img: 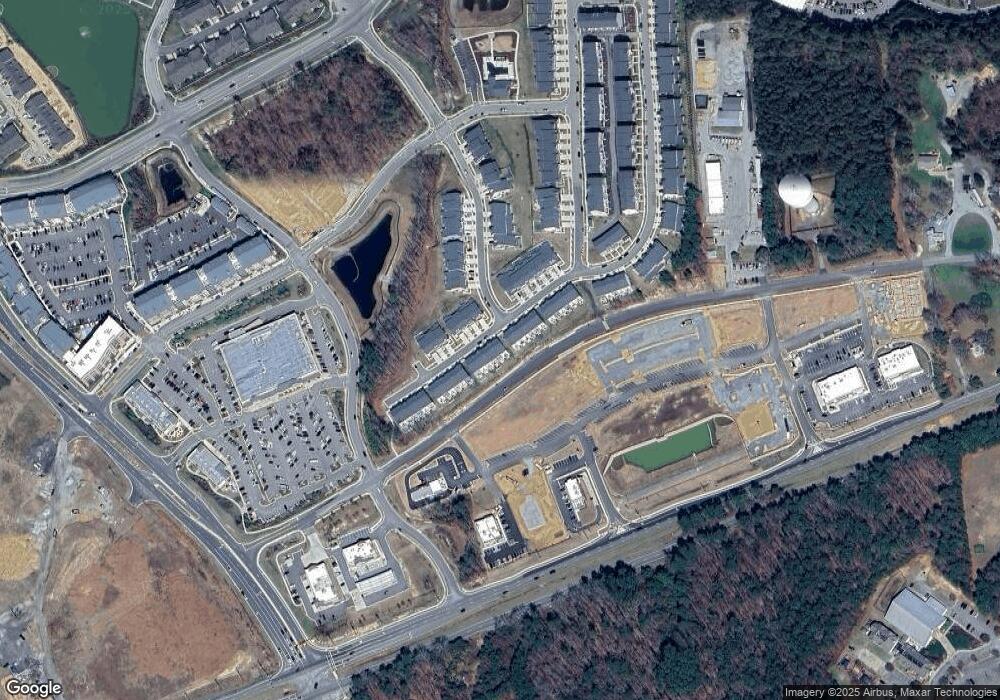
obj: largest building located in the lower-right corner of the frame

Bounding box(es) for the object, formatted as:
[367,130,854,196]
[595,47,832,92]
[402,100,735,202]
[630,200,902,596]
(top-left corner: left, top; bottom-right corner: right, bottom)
[884,588,946,650]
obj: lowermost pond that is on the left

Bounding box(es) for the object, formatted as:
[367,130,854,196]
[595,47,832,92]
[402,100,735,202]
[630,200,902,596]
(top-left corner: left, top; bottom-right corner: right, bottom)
[331,213,393,319]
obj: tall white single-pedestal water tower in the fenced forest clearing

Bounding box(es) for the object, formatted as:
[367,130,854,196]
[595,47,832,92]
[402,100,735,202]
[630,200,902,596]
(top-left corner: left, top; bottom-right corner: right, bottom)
[780,172,819,215]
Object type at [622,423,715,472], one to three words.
pond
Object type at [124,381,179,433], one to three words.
building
